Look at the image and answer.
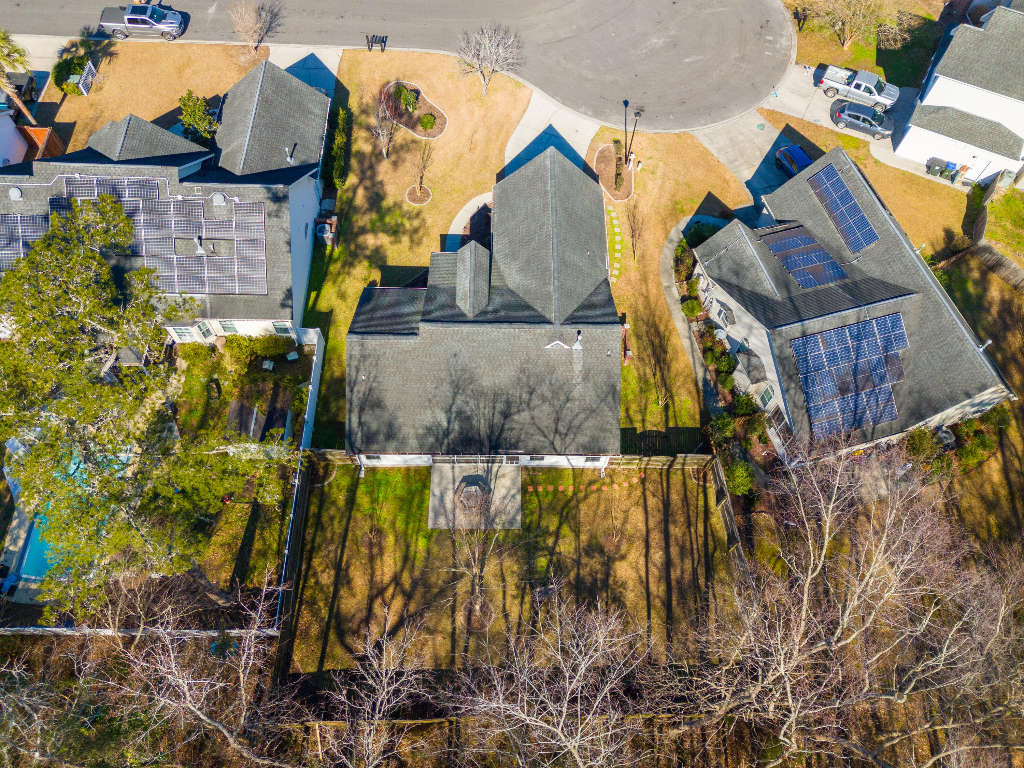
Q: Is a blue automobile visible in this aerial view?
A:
Yes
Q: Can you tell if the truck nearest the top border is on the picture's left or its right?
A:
left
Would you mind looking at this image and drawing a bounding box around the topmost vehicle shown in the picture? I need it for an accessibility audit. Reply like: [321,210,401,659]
[98,0,190,40]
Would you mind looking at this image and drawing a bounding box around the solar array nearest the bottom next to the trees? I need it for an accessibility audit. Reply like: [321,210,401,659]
[790,311,912,443]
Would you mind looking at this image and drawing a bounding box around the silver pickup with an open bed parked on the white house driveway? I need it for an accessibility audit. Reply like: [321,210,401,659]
[815,59,909,111]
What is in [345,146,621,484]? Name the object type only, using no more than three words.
house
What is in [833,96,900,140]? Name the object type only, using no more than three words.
car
